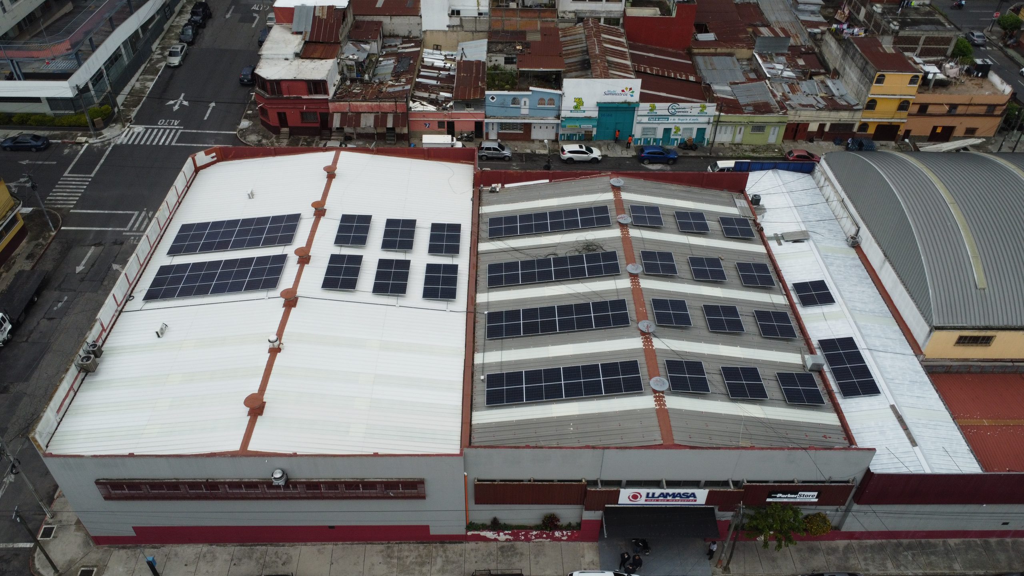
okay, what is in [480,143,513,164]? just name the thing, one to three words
car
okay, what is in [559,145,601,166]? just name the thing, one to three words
car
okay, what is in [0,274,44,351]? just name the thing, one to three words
truck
